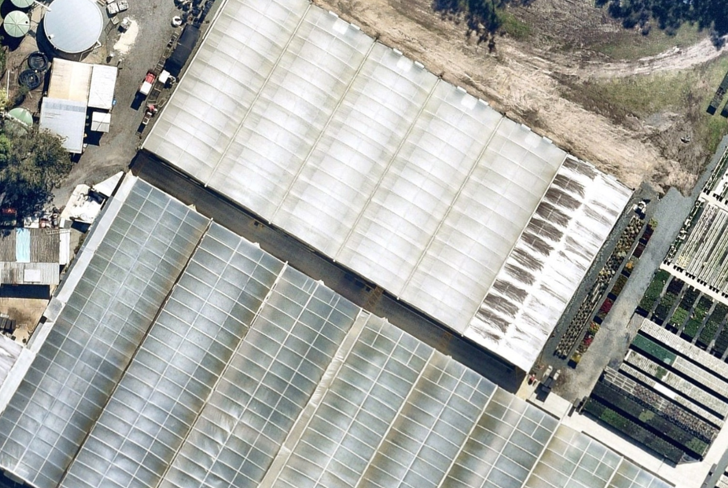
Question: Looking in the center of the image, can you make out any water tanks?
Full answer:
No, no water tank can be made out in the center of the image.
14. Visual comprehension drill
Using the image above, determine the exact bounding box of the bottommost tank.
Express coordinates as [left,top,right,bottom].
[7,107,36,137]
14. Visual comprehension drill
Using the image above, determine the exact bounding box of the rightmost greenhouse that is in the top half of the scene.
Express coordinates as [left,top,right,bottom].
[141,0,636,378]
